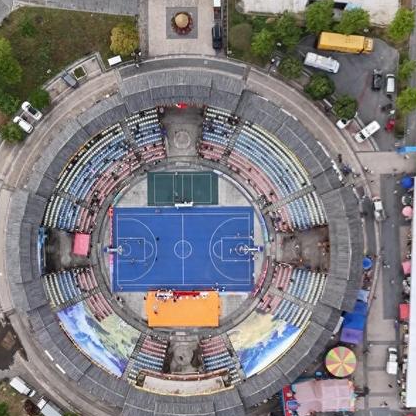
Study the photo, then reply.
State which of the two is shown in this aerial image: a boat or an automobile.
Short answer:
automobile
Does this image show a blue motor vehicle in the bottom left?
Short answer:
No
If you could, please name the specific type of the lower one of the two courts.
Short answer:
basketball court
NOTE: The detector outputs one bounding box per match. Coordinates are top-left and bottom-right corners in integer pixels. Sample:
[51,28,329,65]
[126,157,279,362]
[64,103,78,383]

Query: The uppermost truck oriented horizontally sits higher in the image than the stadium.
[316,31,373,56]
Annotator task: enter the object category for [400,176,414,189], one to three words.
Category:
umbrella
